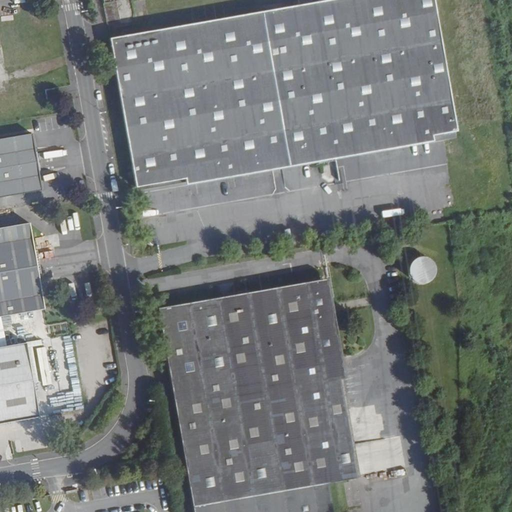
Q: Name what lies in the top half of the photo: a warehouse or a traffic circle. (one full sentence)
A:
What appears in the top half of the photo is a warehouse.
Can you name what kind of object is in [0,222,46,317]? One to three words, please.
building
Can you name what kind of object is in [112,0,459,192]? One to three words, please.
warehouse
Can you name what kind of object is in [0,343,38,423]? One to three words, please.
building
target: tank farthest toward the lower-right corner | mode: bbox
[403,256,438,285]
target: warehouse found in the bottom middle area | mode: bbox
[160,280,360,512]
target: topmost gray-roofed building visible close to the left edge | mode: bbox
[0,133,42,197]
